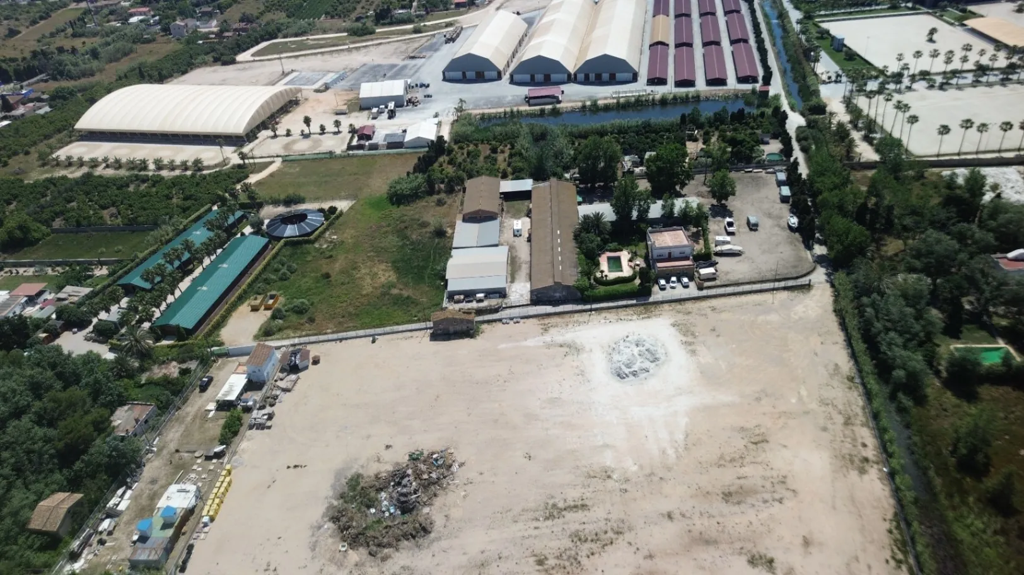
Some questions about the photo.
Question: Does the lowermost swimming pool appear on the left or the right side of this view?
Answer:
right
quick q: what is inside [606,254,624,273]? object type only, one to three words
swimming pool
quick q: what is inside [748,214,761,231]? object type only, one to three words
vehicle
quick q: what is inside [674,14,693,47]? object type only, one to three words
shed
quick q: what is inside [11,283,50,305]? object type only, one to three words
house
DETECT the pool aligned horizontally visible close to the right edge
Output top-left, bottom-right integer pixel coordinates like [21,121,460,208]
[953,345,1016,366]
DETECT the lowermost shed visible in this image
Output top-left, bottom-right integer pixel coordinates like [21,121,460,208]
[128,538,175,569]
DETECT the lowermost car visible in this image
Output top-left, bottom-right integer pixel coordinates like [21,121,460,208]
[198,375,212,391]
